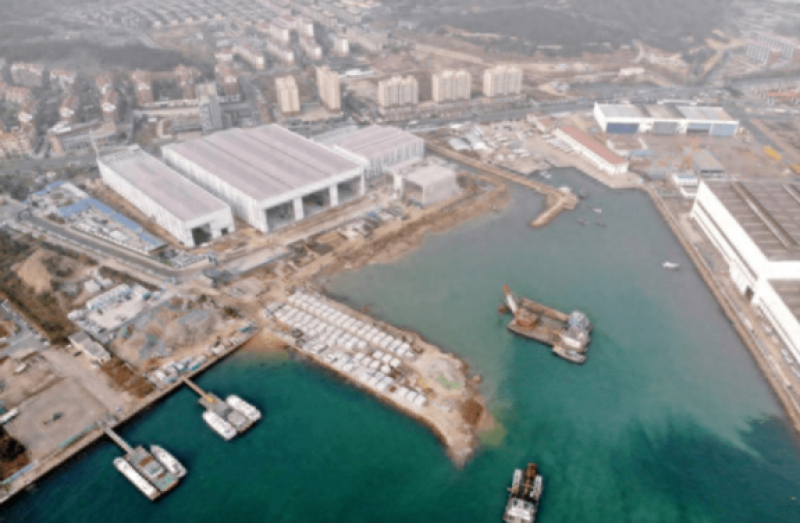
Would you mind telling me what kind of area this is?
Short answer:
port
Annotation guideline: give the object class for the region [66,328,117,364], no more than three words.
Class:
building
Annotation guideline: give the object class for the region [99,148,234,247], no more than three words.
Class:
shed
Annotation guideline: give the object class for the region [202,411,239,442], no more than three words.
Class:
boat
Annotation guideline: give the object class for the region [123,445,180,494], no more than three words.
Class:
pier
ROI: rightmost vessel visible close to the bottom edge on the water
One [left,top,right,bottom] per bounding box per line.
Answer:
[503,468,540,523]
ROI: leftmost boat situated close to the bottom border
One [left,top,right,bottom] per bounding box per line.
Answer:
[112,458,160,502]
